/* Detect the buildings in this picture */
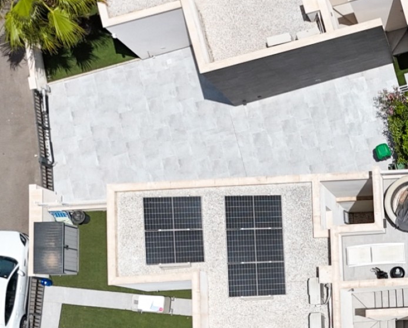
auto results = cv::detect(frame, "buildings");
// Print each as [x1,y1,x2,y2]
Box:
[33,222,83,276]
[97,0,408,105]
[107,166,408,328]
